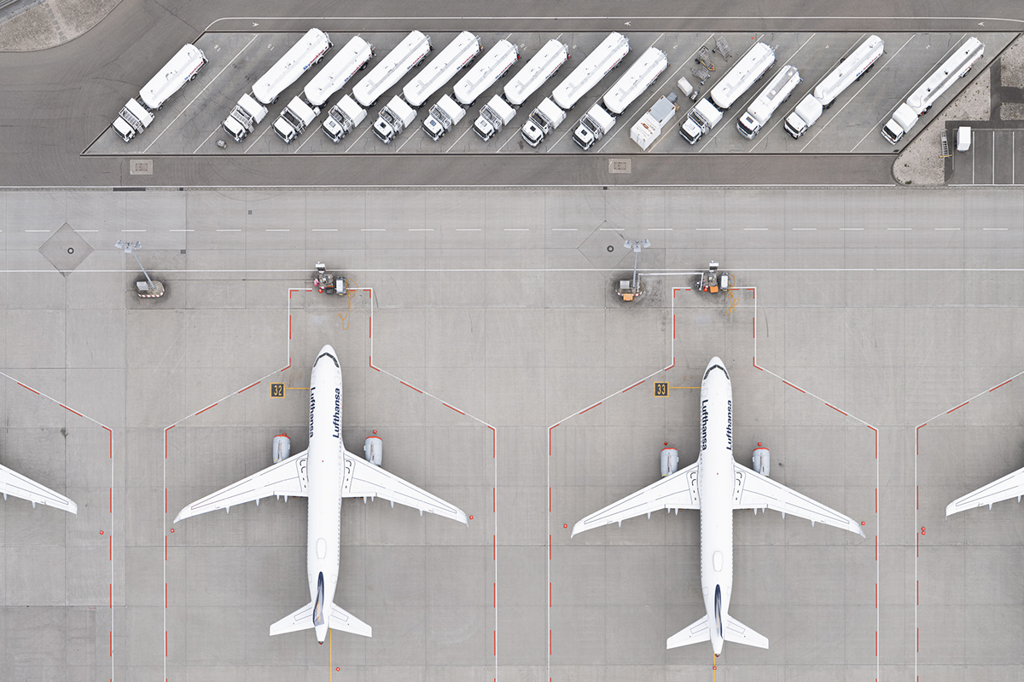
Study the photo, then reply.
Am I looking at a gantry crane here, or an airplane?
airplane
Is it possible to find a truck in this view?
Yes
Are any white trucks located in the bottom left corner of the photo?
No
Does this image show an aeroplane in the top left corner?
No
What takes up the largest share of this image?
paved ground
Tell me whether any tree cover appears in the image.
No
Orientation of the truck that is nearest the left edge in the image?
on a diagonal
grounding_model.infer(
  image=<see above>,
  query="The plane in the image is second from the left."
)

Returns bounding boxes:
[175,346,468,646]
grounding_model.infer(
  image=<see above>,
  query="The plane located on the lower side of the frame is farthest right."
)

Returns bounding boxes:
[946,466,1024,517]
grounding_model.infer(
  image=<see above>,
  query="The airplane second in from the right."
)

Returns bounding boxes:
[571,358,865,657]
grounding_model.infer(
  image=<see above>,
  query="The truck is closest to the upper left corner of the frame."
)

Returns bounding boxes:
[108,43,206,147]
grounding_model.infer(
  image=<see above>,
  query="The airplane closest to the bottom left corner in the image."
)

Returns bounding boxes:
[0,463,78,514]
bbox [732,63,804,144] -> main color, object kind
white truck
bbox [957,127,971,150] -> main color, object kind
white vehicle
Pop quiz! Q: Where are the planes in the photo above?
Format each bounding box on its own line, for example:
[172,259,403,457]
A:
[0,463,78,514]
[571,358,865,657]
[175,346,468,646]
[946,466,1024,517]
